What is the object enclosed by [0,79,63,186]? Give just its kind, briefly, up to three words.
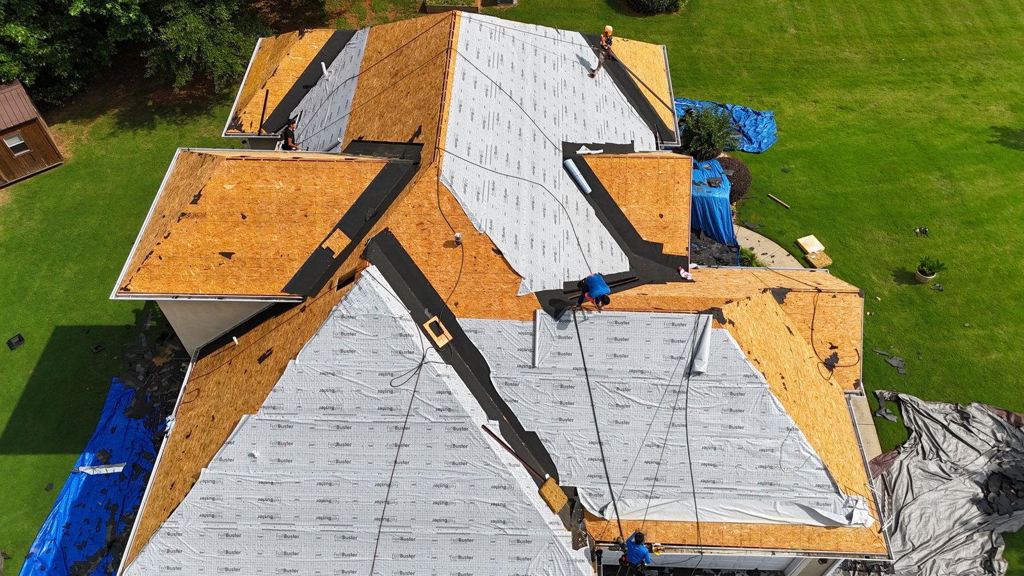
shed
